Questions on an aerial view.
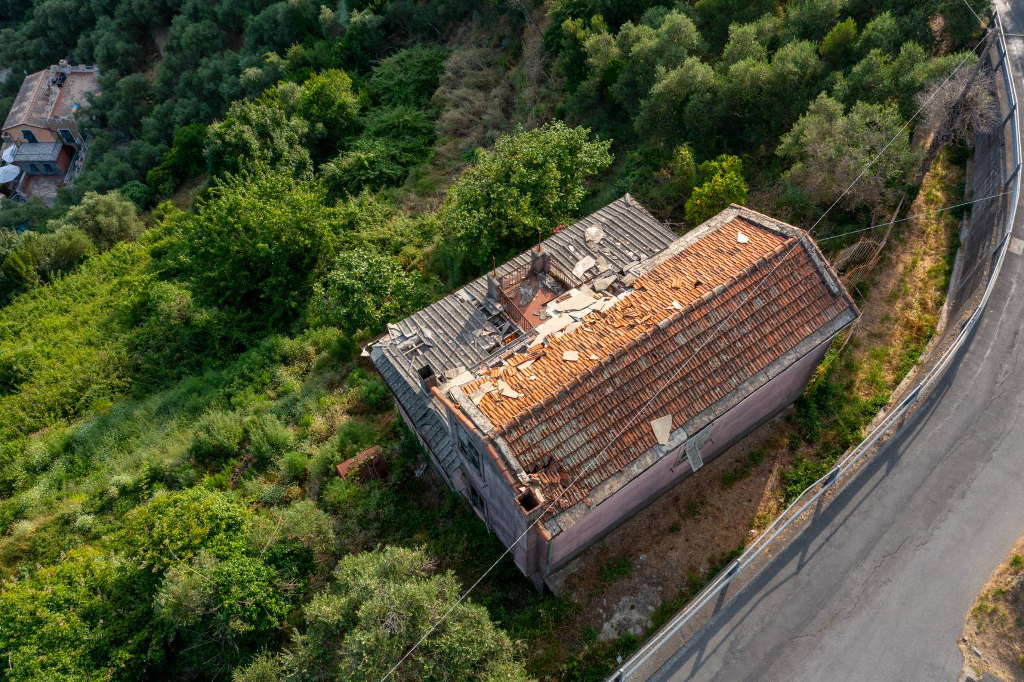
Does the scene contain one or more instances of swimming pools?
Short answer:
No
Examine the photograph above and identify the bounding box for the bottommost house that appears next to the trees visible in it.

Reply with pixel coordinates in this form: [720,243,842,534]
[358,195,859,601]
